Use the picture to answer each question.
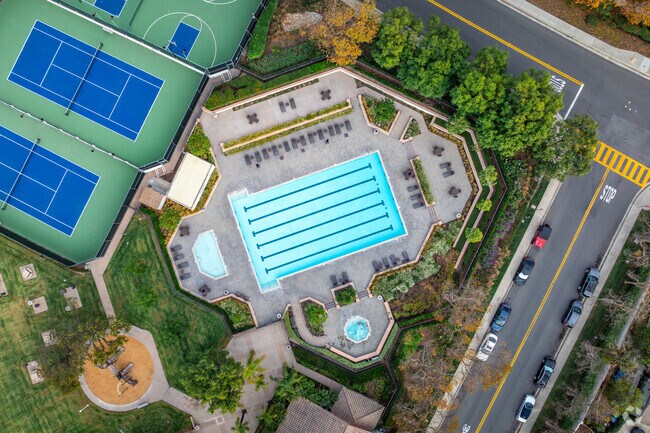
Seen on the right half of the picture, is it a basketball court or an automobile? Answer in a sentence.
It is an automobile that can be seen on the right half of the picture.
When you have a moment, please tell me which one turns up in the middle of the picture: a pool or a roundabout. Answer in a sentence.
There is a pool in the middle of the picture.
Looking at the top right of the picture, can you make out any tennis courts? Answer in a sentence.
No, the scene shows no tennis court at the top right of the picture.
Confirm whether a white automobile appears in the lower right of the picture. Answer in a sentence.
Yes, a white automobile can be seen in the lower right of the picture.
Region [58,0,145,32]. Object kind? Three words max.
basketball court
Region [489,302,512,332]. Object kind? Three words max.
car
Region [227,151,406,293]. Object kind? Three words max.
swimming pool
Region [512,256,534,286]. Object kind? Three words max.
car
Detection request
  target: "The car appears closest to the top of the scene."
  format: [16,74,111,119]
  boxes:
[529,224,552,251]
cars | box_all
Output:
[514,392,536,423]
[576,267,600,298]
[489,302,512,332]
[512,256,534,286]
[533,356,555,387]
[560,298,583,328]
[477,331,499,361]
[529,224,552,251]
